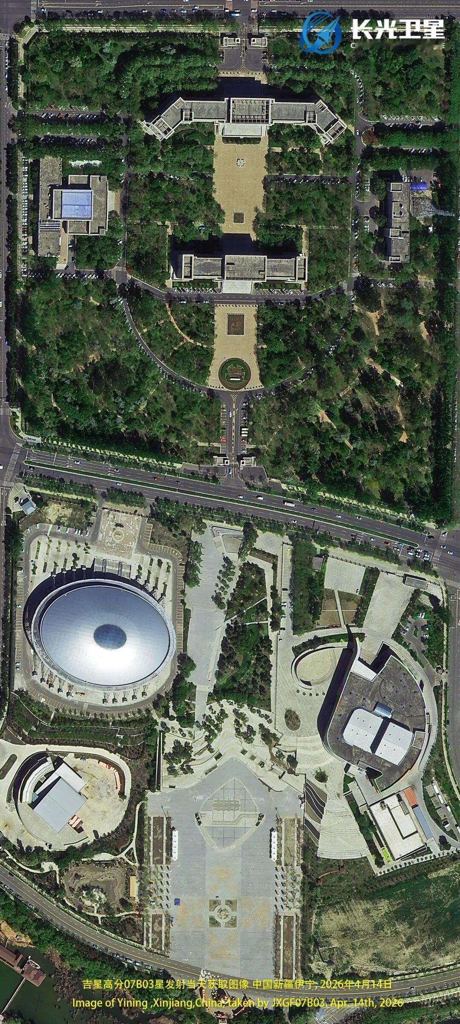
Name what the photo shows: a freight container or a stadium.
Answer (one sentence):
Looking from above, you can make out a stadium.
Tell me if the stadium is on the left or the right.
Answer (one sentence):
The stadium sits on the left side.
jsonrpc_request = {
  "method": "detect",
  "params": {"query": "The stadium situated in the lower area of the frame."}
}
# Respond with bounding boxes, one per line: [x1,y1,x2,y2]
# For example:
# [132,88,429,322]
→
[30,558,175,703]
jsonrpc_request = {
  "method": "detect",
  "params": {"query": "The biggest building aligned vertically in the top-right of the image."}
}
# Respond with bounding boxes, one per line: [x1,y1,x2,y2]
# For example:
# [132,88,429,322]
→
[383,182,411,263]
